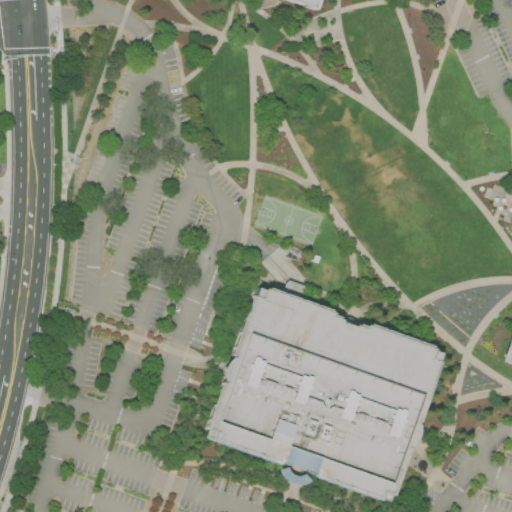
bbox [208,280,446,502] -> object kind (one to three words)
building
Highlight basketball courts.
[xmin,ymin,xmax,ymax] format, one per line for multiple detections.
[256,195,322,245]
